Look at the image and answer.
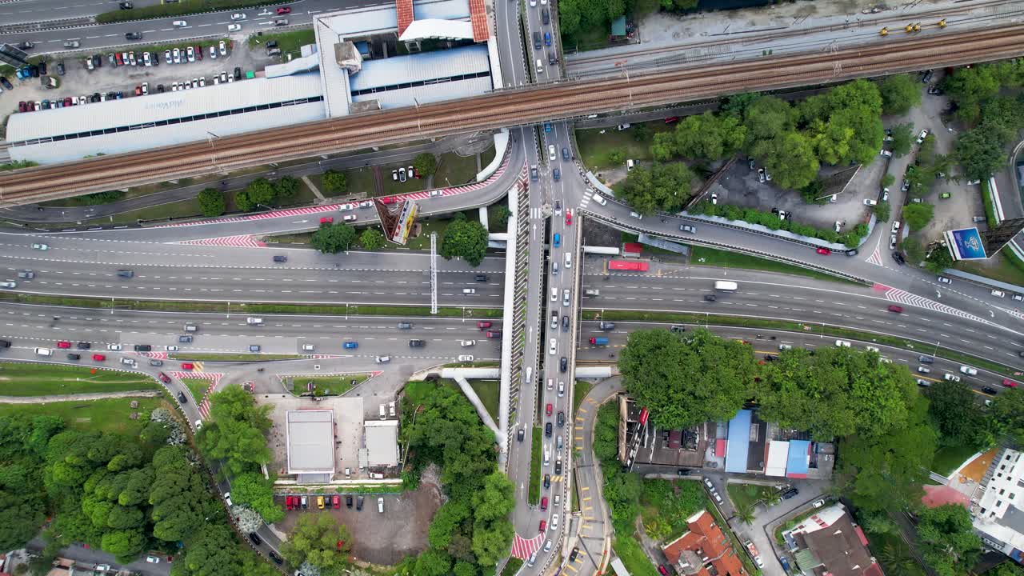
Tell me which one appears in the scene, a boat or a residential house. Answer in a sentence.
There is a residential house in the scene.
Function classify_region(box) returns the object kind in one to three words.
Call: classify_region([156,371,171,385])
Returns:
car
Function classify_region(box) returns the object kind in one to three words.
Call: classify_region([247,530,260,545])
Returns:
vehicle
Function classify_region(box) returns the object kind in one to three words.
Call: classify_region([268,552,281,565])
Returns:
vehicle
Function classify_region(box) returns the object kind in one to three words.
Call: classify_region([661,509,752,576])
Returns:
house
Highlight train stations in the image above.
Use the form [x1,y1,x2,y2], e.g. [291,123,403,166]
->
[0,0,504,168]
